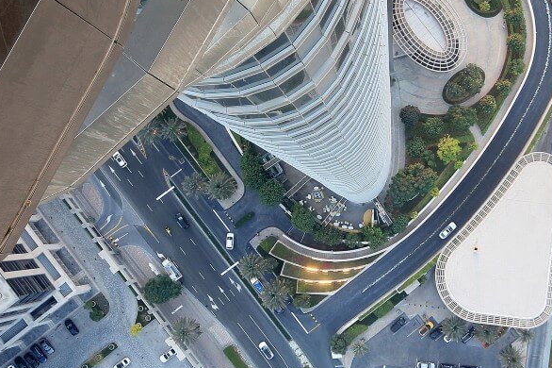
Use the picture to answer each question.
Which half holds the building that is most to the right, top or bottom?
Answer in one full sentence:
The building that is most to the right is in the bottom half of the image.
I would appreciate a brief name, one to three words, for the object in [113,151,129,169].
car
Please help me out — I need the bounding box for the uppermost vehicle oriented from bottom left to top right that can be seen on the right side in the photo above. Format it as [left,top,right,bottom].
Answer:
[438,220,456,240]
